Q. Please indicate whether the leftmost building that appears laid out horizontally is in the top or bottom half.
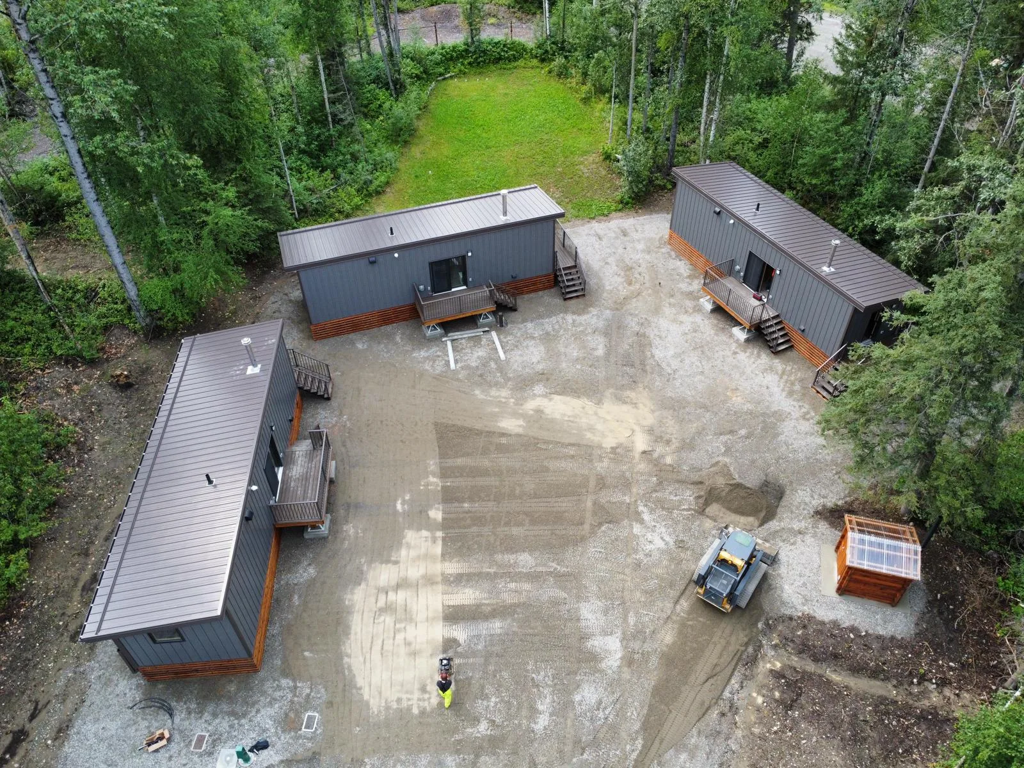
top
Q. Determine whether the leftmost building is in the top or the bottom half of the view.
bottom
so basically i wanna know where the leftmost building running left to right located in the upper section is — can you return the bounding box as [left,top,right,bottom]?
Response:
[277,185,566,339]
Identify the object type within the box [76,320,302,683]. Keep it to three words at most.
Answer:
building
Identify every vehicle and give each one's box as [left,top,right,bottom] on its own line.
[694,524,779,613]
